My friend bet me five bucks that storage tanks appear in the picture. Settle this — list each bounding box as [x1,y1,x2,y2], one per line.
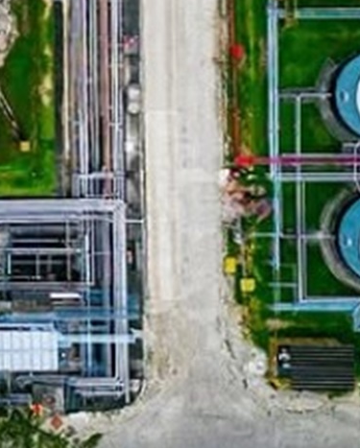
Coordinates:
[320,39,360,152]
[321,183,360,296]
